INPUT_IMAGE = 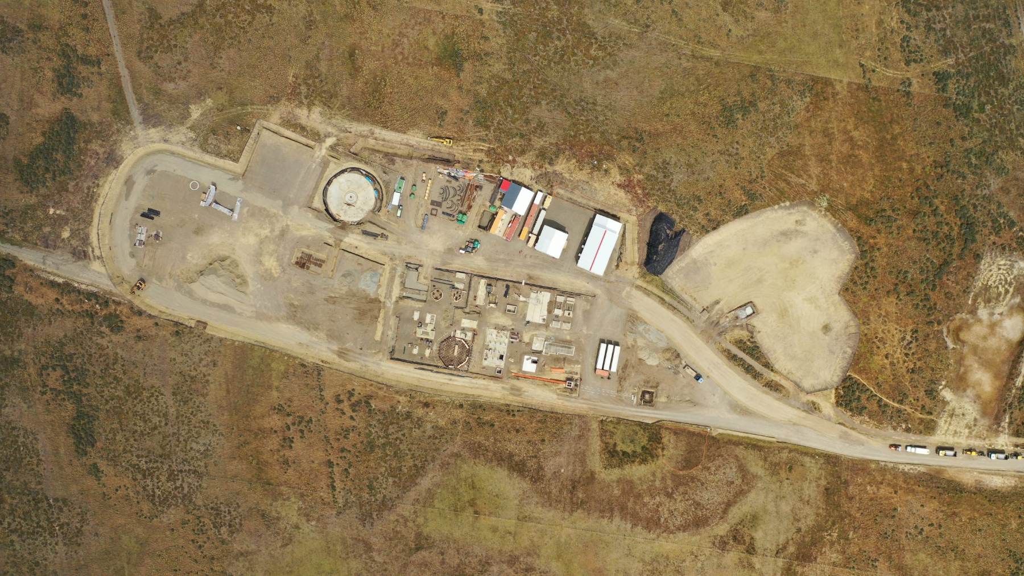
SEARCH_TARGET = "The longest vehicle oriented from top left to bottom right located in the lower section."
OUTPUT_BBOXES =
[684,365,704,383]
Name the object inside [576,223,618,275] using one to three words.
shed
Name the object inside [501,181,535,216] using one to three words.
building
